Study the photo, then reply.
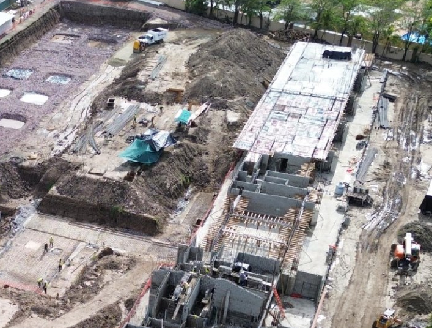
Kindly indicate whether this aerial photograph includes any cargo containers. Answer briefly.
No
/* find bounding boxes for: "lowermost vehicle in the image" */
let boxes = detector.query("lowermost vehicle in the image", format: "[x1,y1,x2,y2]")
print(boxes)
[372,304,407,328]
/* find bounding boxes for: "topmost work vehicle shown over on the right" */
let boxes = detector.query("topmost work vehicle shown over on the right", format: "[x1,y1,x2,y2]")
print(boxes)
[393,229,423,278]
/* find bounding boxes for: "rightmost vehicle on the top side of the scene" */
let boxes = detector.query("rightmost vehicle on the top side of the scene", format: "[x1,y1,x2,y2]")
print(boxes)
[138,28,179,46]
